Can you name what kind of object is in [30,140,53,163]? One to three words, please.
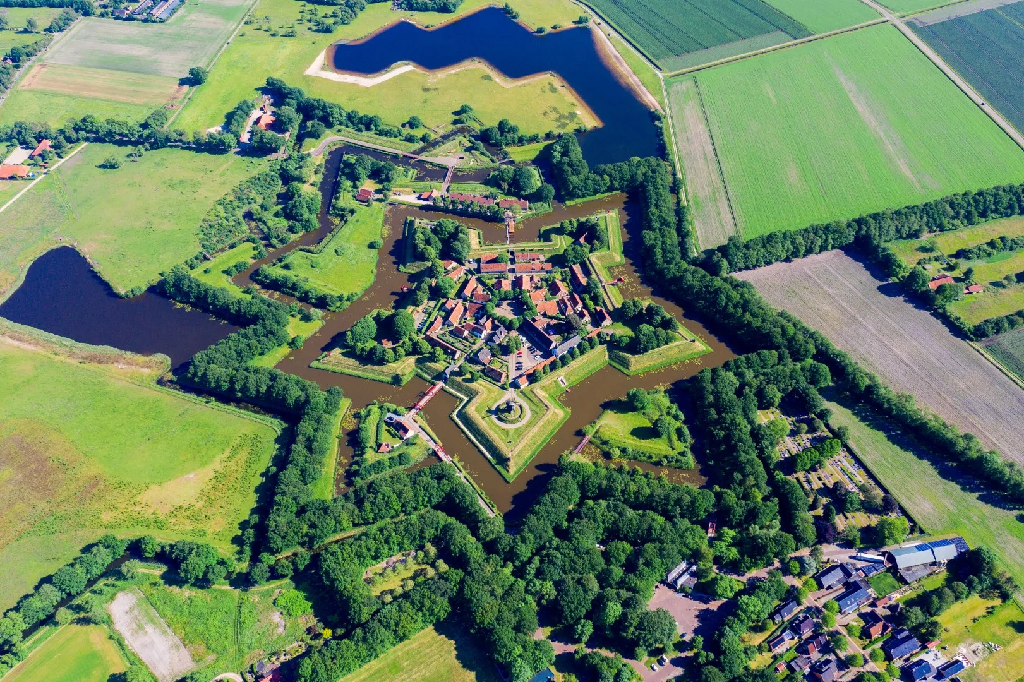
house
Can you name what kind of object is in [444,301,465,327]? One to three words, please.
house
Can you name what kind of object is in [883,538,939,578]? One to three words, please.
barn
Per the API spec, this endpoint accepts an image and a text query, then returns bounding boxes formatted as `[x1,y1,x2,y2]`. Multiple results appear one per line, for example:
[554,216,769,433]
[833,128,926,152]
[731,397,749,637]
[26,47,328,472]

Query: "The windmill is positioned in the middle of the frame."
[496,387,522,418]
